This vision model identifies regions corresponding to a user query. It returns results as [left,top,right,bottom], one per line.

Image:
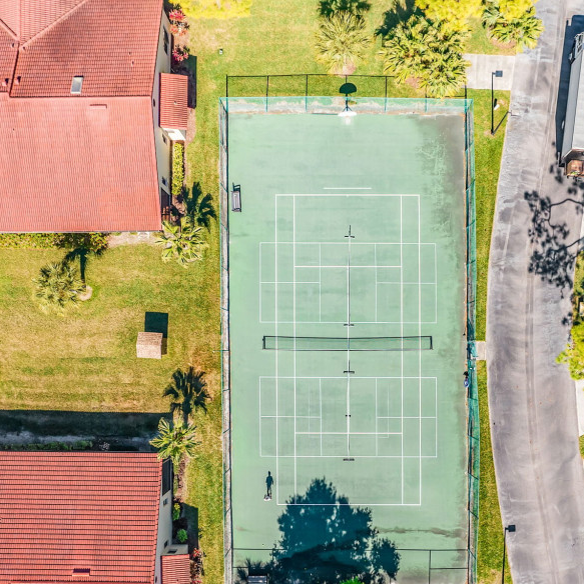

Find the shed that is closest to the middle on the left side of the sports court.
[135,331,168,358]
